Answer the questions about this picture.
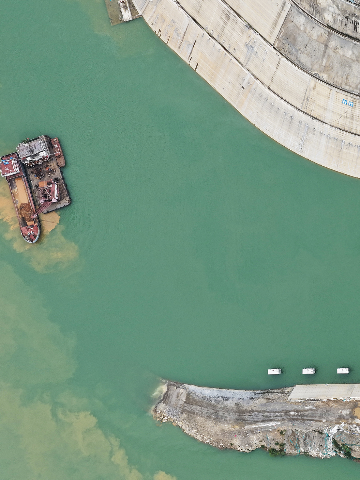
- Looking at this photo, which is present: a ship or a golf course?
ship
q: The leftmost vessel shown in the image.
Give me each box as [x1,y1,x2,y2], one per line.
[0,152,43,244]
